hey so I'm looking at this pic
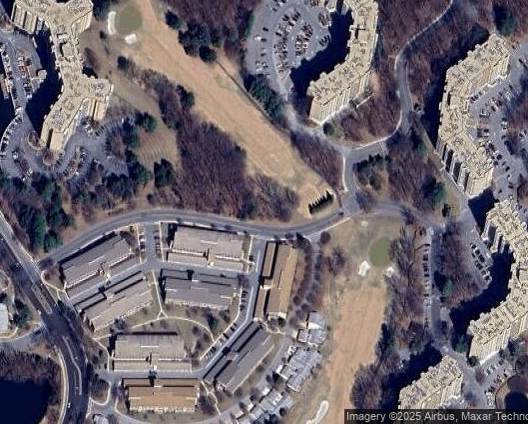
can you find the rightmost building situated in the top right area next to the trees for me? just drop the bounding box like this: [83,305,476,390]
[435,33,511,197]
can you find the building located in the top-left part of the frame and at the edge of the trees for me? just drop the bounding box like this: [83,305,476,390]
[11,0,111,155]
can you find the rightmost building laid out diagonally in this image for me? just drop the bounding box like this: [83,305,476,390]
[391,355,463,424]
